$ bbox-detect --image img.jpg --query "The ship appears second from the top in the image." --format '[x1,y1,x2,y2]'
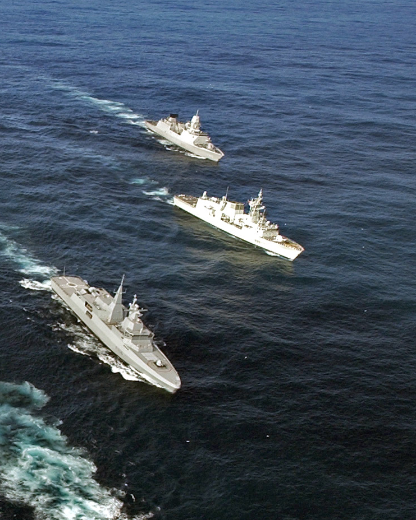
[172,191,304,260]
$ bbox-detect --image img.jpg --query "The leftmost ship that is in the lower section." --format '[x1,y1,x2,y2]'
[51,270,183,395]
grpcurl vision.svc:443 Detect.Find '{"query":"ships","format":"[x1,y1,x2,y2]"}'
[51,270,183,395]
[141,112,225,163]
[172,191,304,260]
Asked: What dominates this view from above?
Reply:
water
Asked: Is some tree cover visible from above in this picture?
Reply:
No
